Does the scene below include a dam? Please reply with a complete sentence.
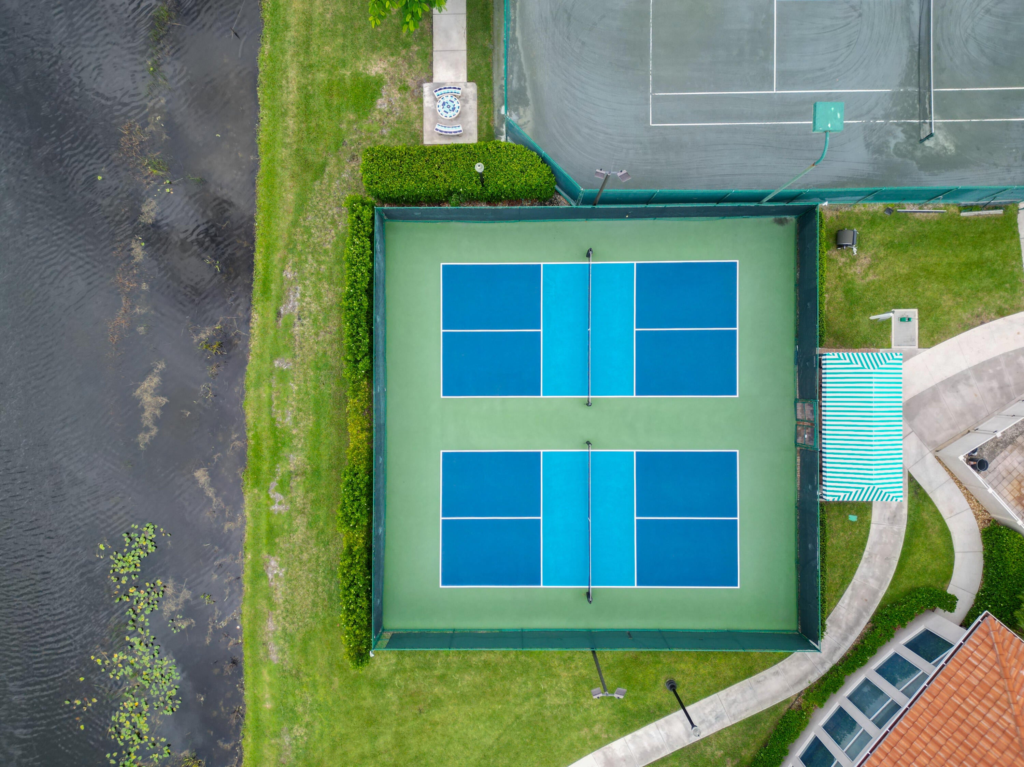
No, no dam is visible in the view.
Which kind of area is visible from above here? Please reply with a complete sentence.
This looks like a sports ground.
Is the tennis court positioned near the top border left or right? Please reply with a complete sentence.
You can find the tennis court positioned near the top border on the right side of the picture.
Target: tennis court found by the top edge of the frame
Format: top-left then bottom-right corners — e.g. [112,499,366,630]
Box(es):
[494,0,1024,205]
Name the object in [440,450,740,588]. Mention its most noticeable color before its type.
blue sports court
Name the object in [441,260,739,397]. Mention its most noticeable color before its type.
blue sports court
